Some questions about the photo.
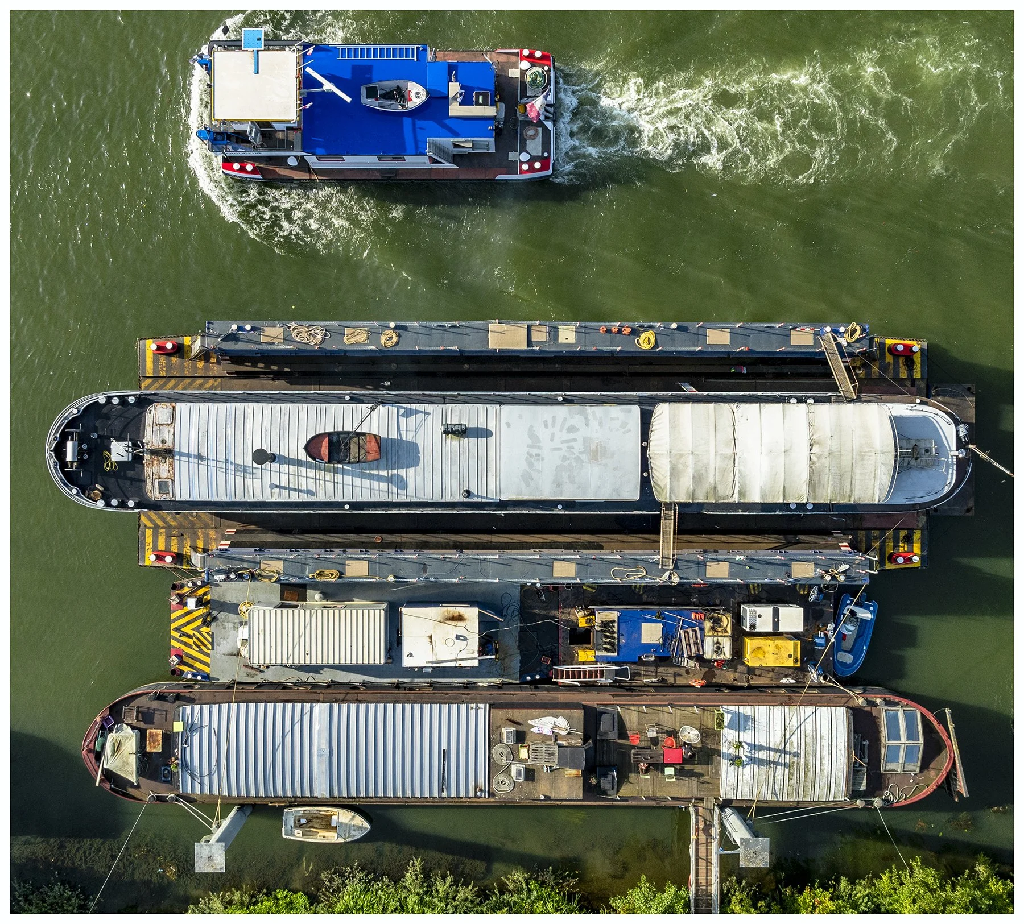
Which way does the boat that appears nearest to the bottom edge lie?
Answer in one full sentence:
The boat that appears nearest to the bottom edge is oriented horizontally.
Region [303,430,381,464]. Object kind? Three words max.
boat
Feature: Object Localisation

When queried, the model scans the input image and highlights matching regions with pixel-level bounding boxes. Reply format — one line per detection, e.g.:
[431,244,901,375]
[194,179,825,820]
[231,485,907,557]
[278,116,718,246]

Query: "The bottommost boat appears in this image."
[282,805,372,843]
